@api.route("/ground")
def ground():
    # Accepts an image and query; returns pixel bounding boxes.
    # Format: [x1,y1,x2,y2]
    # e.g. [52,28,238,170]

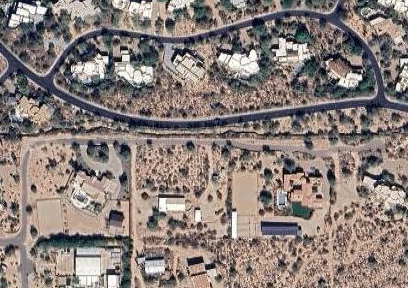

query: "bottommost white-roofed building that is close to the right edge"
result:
[361,174,408,210]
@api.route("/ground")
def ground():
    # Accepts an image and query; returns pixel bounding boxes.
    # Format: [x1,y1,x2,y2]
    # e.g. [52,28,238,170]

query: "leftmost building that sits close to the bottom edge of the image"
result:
[75,249,101,286]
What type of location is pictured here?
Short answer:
residential area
